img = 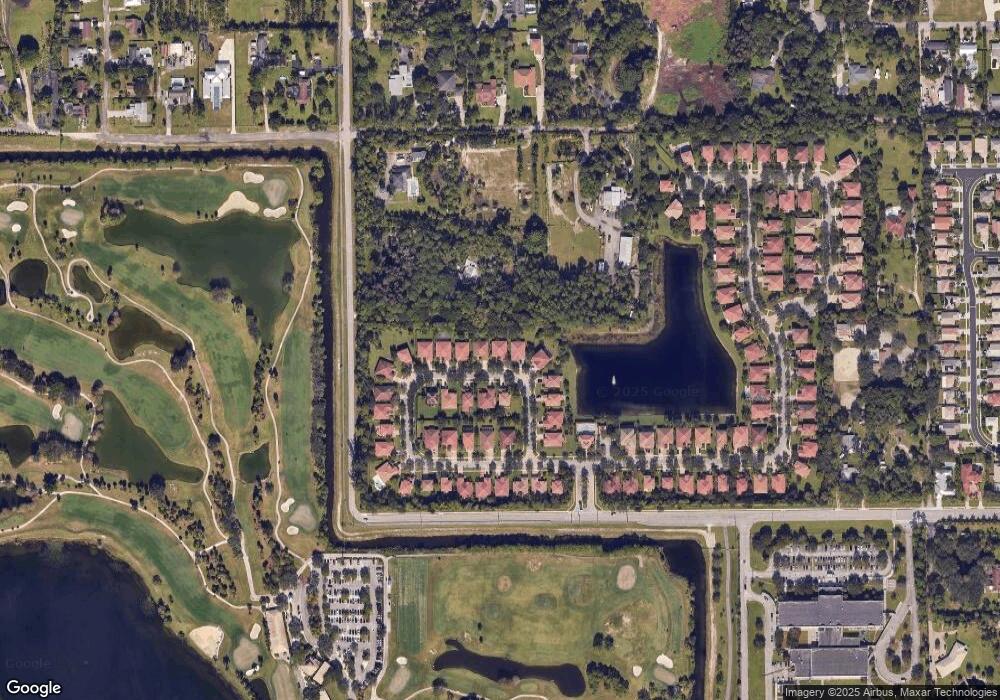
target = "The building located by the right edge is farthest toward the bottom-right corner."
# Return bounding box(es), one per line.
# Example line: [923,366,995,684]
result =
[937,642,968,678]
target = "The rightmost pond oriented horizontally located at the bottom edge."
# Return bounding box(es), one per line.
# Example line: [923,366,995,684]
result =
[433,638,585,697]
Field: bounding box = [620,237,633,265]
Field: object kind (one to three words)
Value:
shed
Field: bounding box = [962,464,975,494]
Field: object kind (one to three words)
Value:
house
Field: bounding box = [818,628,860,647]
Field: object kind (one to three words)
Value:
building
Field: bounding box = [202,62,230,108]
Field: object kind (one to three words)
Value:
house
